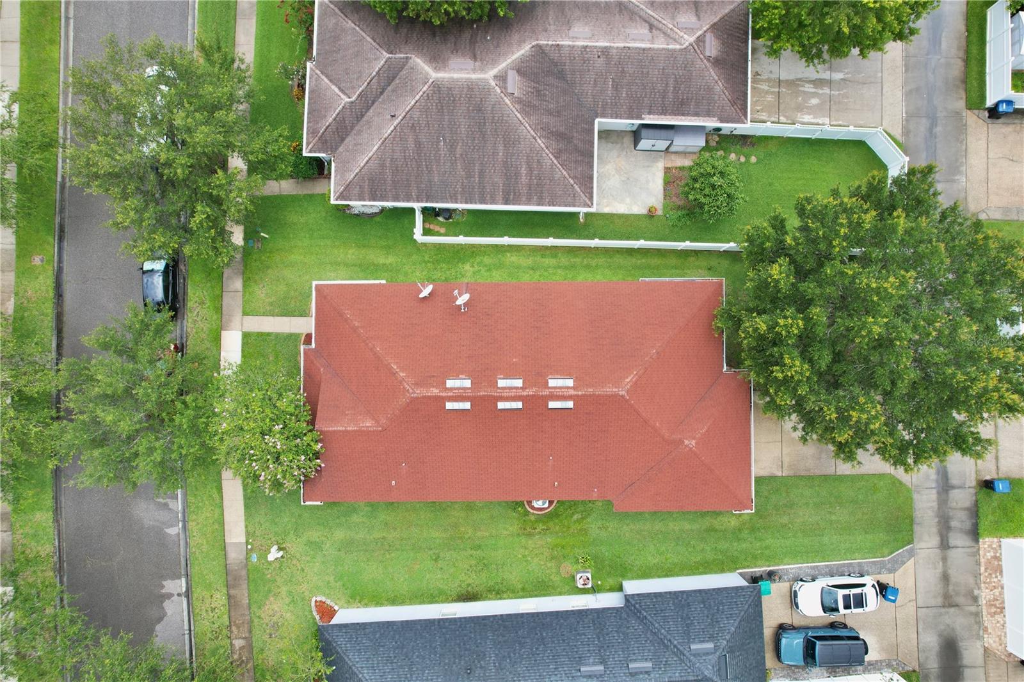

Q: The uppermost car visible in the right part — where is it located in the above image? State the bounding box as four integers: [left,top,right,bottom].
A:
[790,574,881,621]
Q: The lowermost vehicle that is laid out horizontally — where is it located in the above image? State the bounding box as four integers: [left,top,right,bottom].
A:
[773,623,870,670]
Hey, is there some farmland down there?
No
